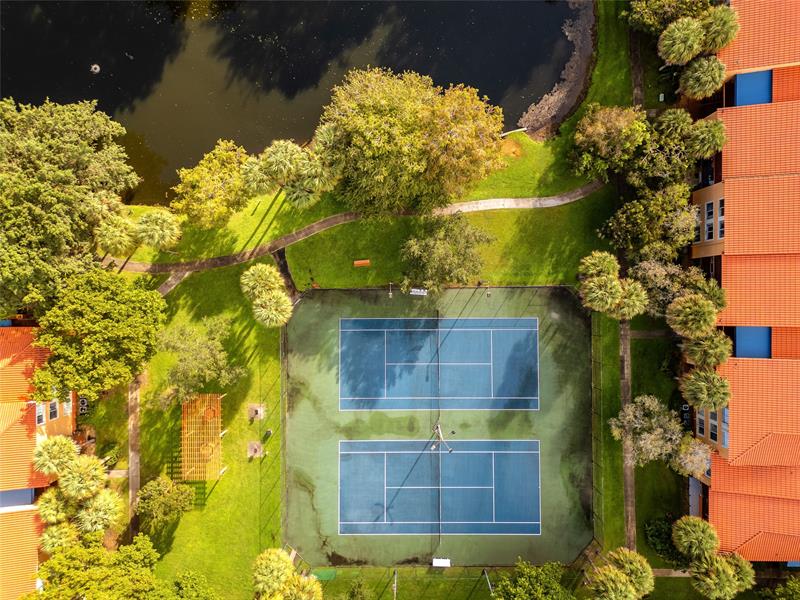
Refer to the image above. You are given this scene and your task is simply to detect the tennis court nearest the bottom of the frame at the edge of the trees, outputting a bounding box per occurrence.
[338,441,541,535]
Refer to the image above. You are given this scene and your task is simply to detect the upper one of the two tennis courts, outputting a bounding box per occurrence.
[338,318,540,411]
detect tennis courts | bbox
[338,318,540,411]
[338,441,541,535]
